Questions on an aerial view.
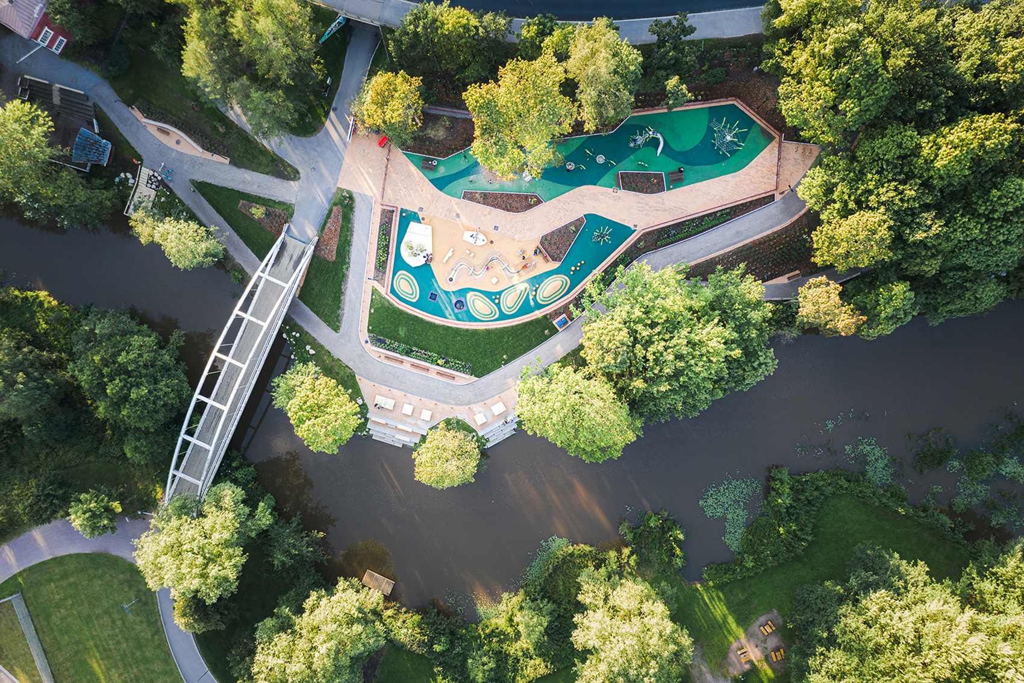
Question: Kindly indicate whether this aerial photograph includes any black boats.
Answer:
No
